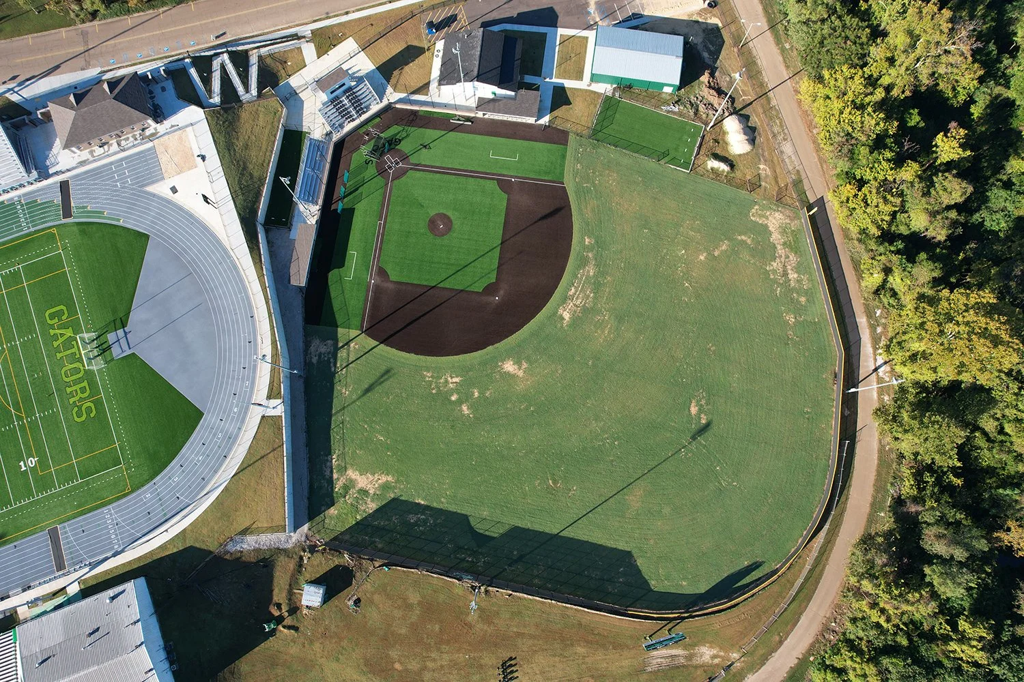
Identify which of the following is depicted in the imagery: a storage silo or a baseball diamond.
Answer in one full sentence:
Of the two, only a baseball diamond appears.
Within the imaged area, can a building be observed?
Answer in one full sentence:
Yes, I can see a building in this picture.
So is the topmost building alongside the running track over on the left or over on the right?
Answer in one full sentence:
The topmost building alongside the running track appears in the left half of the scene.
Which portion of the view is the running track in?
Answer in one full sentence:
You can find the running track in the left area of the picture.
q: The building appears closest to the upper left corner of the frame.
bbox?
[47,71,156,153]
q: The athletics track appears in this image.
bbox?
[0,128,259,593]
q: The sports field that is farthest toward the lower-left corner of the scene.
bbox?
[0,222,217,549]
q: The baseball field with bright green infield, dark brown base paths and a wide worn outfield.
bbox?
[302,107,838,612]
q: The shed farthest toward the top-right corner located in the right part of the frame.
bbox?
[591,25,684,92]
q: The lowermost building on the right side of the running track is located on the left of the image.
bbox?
[297,582,330,609]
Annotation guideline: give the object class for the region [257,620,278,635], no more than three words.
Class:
work vehicle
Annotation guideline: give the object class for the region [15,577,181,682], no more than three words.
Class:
building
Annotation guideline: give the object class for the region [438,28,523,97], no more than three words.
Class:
building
